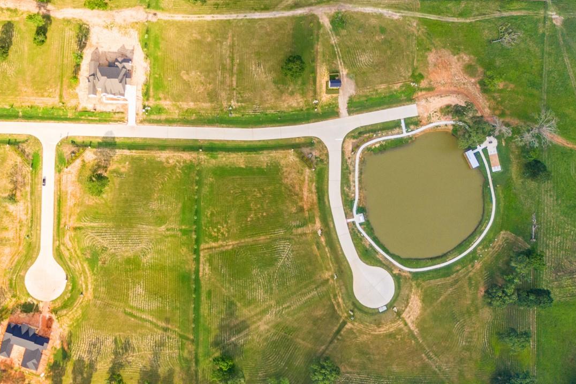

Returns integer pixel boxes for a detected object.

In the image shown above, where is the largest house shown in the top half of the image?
[88,57,132,98]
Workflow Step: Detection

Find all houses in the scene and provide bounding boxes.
[88,57,132,98]
[0,321,54,373]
